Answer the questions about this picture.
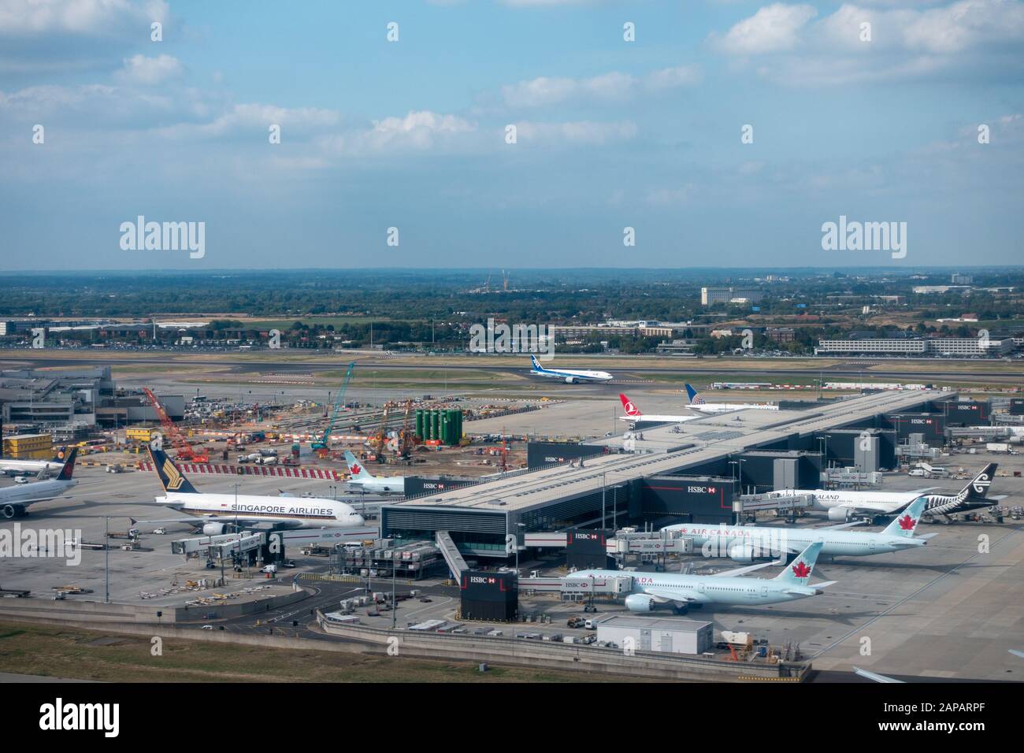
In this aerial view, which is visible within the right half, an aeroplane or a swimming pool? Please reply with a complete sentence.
Visible within the right half is an aeroplane.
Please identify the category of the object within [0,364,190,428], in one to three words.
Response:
building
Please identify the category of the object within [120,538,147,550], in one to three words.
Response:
vehicle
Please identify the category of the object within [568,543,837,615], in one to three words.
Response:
airplane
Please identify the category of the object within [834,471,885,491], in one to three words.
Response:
jet bridge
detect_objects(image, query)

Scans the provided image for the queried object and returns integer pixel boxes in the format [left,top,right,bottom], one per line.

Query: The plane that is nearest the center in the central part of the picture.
[526,353,613,384]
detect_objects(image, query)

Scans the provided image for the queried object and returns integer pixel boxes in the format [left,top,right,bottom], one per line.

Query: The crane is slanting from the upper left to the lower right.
[140,387,213,462]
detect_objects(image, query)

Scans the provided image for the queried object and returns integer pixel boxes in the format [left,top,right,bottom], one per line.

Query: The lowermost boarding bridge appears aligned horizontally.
[530,578,644,619]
